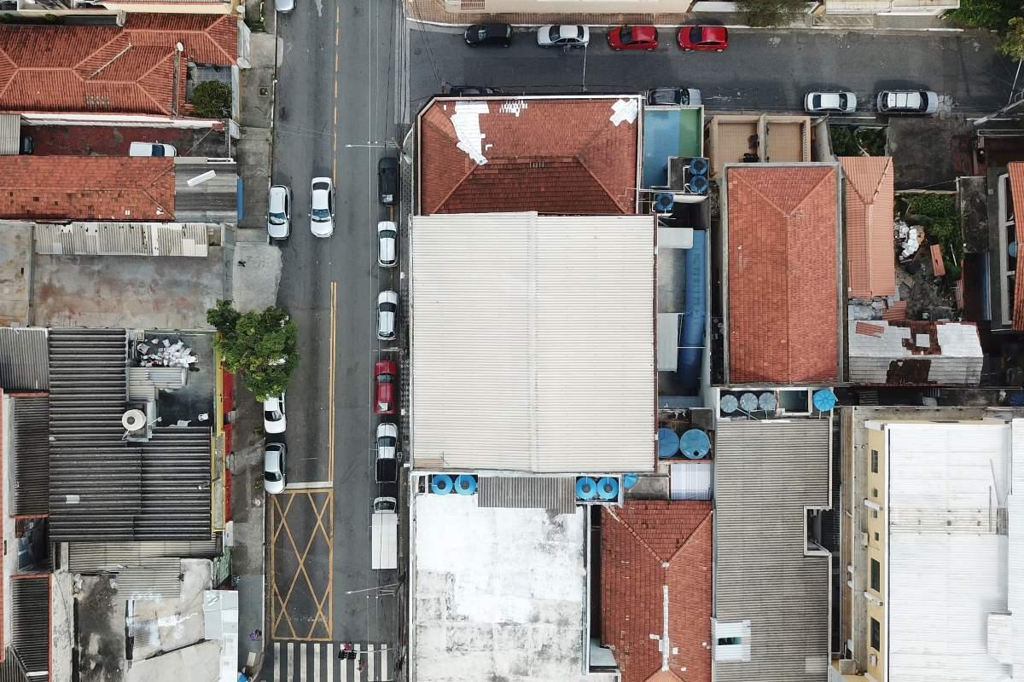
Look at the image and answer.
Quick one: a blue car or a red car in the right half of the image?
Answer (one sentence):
Looking in the right half of the image, you will find a red car.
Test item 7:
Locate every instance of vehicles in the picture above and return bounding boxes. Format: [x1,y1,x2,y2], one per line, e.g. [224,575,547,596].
[465,19,513,50]
[874,86,937,117]
[260,442,290,494]
[373,291,401,341]
[537,20,589,52]
[802,87,856,117]
[263,185,294,242]
[645,83,702,105]
[373,423,401,484]
[334,651,360,664]
[124,137,179,157]
[374,157,403,207]
[676,23,729,54]
[373,222,402,267]
[606,23,659,53]
[371,359,399,415]
[368,494,402,573]
[274,0,299,15]
[260,377,290,434]
[0,134,37,156]
[307,177,337,239]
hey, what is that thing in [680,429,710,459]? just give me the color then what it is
blue water tank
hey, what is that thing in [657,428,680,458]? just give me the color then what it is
blue water tank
